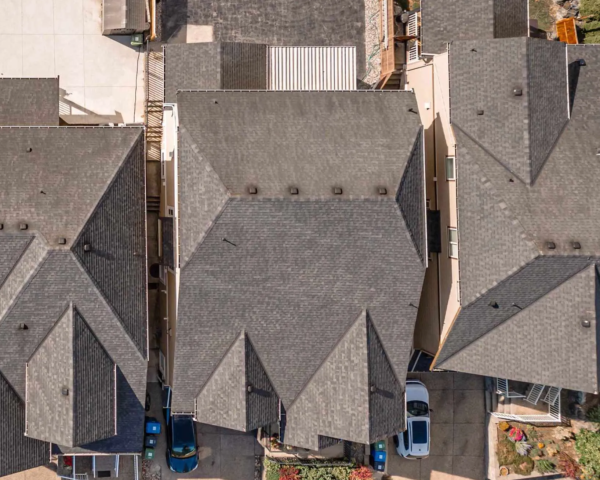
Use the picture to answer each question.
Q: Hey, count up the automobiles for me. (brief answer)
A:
2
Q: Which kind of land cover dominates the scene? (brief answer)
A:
buildings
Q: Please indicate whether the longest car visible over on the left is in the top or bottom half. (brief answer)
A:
bottom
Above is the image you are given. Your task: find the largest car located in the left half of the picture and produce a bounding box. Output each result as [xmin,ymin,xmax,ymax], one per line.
[163,384,203,471]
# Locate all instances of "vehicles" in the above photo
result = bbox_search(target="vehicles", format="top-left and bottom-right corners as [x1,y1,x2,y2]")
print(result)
[163,384,203,471]
[392,379,435,461]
